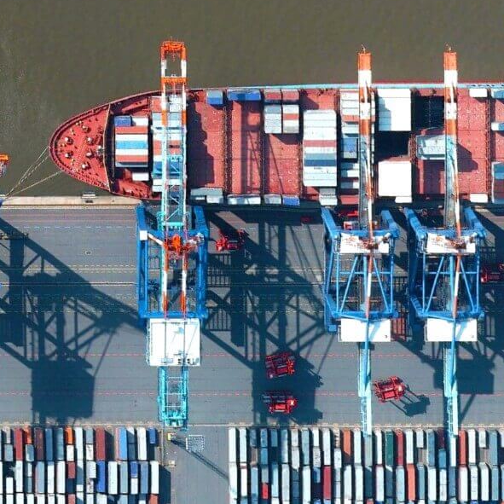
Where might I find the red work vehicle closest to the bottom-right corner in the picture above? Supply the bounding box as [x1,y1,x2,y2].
[372,376,407,398]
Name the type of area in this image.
port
